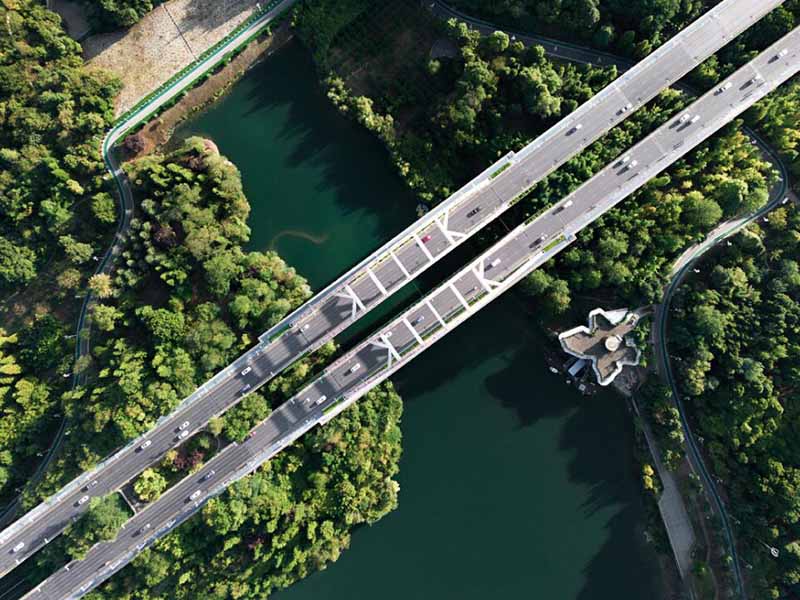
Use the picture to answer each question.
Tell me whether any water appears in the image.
Yes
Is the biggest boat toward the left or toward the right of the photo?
right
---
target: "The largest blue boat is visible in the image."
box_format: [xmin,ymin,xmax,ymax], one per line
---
[564,358,586,379]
